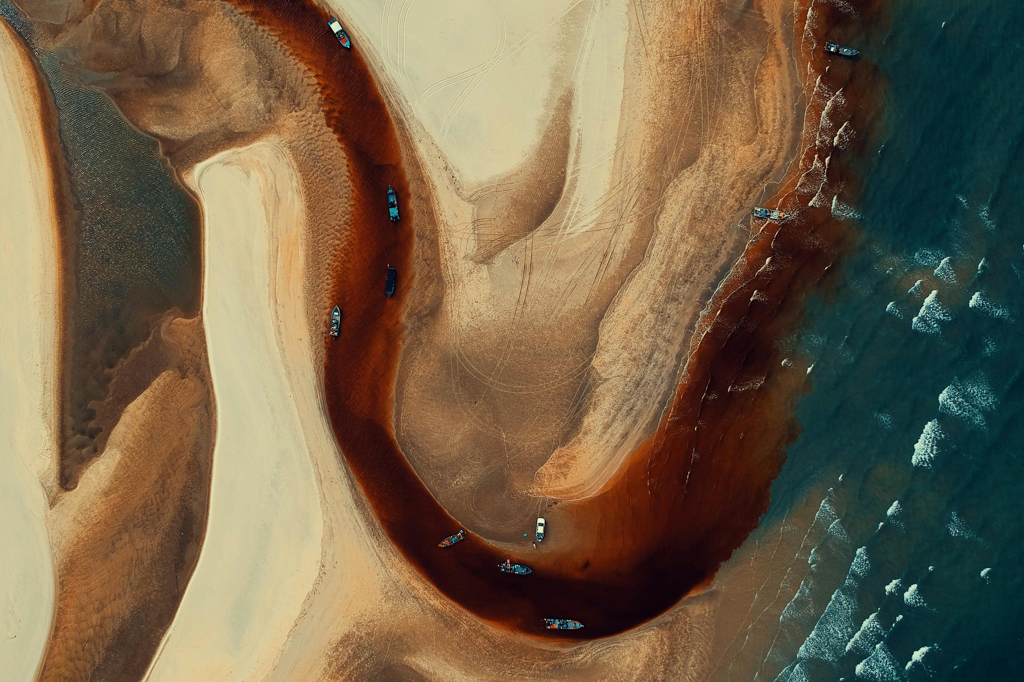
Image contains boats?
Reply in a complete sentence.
Yes, looking at the shot, I can spot a boat.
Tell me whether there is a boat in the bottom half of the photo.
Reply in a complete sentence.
Yes, a boat shows up in the bottom half of the photo.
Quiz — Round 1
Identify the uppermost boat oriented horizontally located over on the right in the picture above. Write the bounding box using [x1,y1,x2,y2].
[825,40,862,53]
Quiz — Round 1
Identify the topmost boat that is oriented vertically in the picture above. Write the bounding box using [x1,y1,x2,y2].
[387,185,399,220]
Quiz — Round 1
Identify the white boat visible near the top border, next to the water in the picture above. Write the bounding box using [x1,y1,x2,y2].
[327,16,349,46]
